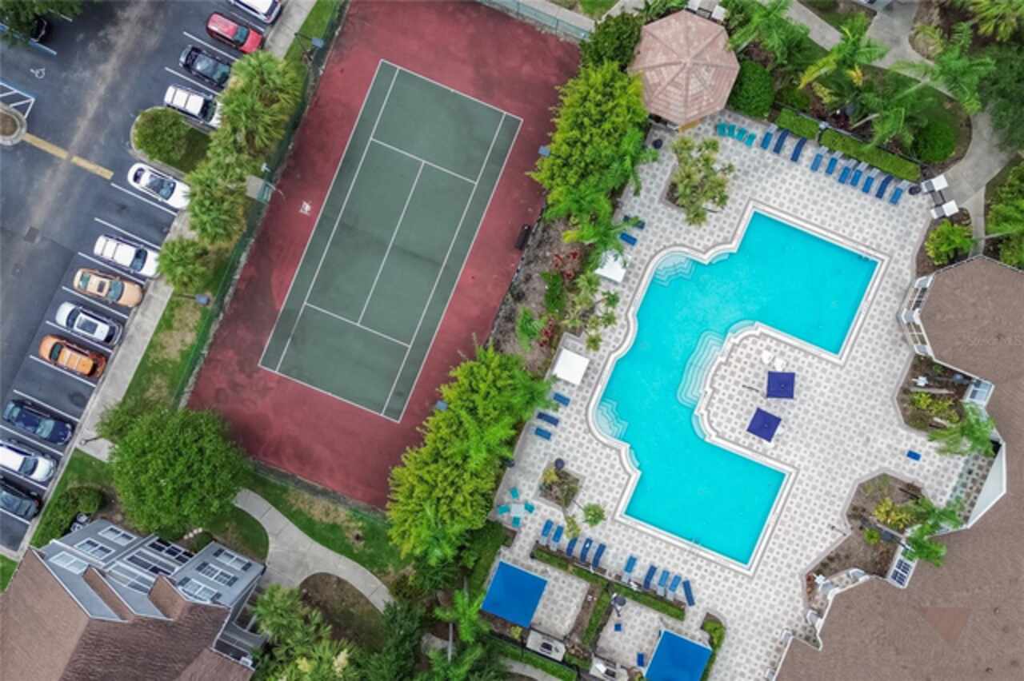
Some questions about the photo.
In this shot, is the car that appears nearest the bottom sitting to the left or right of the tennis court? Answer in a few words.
to the left of it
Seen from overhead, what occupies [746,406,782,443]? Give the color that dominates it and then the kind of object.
blue umbrella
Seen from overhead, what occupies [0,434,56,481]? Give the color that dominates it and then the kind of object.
white car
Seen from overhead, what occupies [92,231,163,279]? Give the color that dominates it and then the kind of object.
white car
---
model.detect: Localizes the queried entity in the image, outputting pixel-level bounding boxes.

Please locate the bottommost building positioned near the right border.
[770,254,1024,681]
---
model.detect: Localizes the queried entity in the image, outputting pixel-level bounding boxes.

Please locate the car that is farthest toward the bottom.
[0,476,41,519]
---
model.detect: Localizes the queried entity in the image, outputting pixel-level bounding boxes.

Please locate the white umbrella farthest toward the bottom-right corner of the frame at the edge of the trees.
[552,348,590,386]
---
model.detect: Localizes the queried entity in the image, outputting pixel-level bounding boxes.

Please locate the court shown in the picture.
[173,0,602,524]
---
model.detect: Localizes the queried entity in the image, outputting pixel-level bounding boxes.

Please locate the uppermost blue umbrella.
[767,370,796,399]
